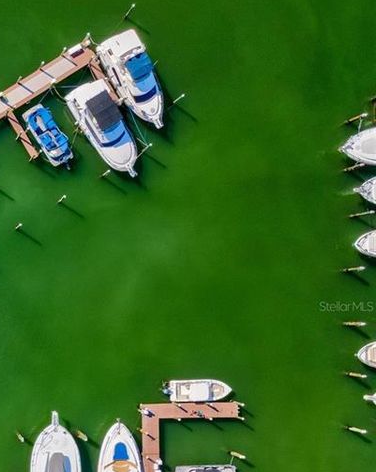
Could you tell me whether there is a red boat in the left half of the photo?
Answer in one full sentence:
No, no red boat is visible in the left half of the photo.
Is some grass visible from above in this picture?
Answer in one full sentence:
No, the scene doesn't show any grass.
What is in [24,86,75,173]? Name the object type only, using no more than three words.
boat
